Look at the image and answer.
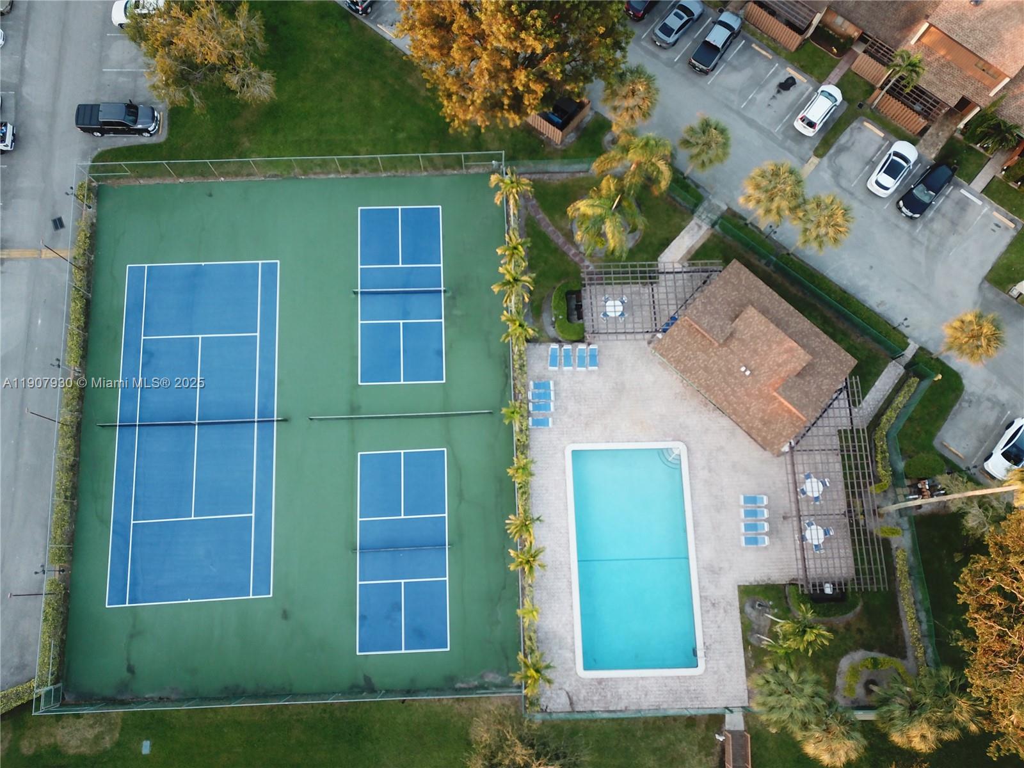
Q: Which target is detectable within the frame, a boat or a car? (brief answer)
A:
car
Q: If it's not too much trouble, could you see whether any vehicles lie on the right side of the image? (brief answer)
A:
Yes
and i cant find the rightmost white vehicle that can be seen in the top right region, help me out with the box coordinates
[868,142,918,200]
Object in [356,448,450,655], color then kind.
blue sports court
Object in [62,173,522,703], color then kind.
green sports court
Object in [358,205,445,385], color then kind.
blue sports court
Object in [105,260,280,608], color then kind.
blue tennis court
